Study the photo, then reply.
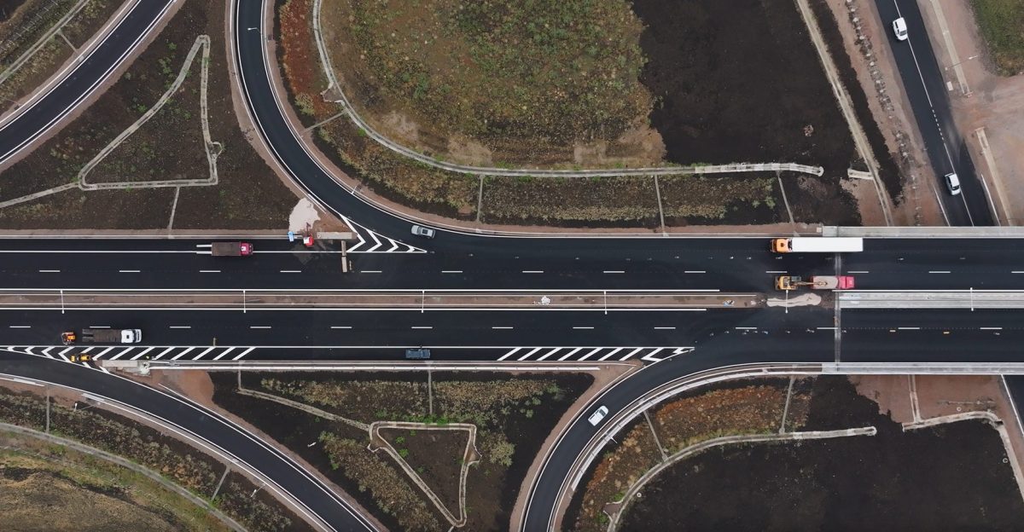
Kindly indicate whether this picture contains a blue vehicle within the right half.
No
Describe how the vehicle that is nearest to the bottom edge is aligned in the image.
on a diagonal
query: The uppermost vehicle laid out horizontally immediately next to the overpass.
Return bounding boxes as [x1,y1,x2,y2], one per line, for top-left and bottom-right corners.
[770,237,863,253]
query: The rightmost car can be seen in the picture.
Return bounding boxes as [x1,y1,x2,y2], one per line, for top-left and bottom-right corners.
[943,171,959,196]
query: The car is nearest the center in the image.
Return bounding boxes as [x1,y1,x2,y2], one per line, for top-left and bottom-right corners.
[411,225,436,238]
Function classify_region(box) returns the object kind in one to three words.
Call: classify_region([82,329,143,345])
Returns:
vehicle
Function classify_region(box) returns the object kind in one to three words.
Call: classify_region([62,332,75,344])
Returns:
vehicle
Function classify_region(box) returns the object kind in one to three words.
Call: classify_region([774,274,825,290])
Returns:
work vehicle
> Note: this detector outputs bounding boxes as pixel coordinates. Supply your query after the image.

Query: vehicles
[810,275,856,291]
[891,15,908,41]
[406,347,430,359]
[62,332,75,344]
[301,224,314,249]
[770,237,863,253]
[586,404,610,428]
[943,171,959,196]
[196,241,254,256]
[70,353,89,362]
[411,225,436,238]
[82,329,143,345]
[774,274,825,290]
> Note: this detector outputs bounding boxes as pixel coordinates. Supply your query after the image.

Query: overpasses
[822,226,1024,375]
